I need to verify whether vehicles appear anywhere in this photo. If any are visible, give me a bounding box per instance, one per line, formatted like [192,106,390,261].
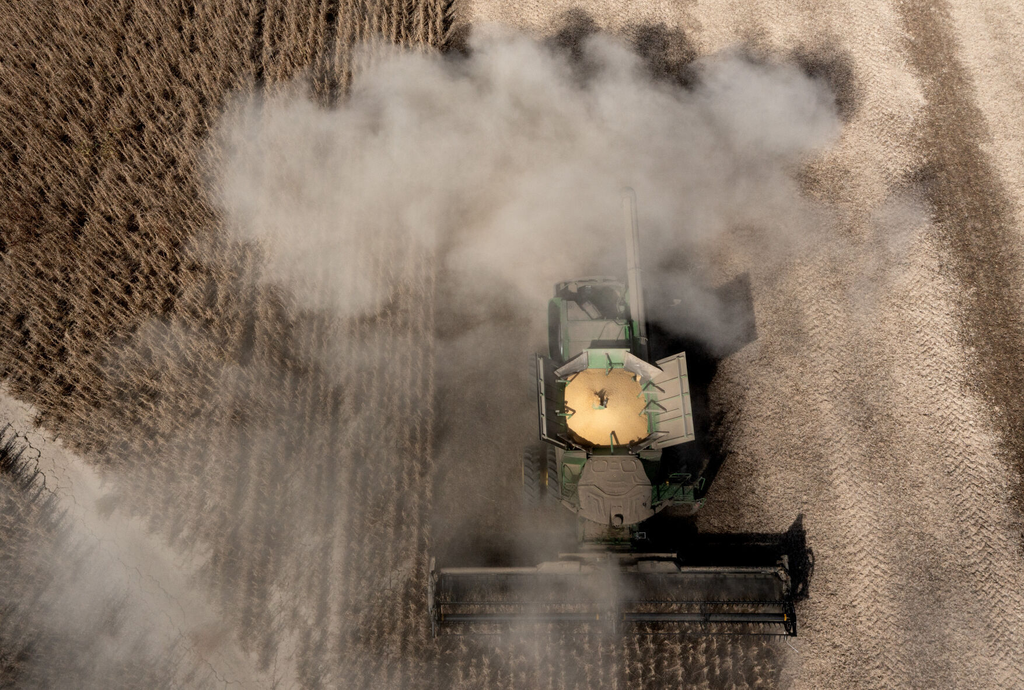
[429,186,801,651]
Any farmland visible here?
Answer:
Yes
